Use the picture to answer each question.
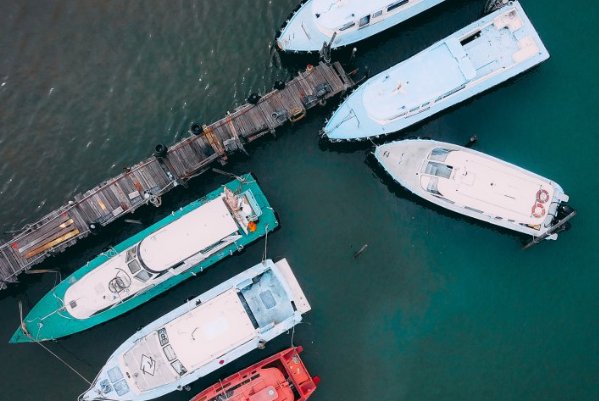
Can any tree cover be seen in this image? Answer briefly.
No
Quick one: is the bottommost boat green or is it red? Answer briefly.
red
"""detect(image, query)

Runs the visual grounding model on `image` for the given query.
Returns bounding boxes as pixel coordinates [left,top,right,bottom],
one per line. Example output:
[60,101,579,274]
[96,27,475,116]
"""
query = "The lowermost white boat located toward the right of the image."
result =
[376,140,572,242]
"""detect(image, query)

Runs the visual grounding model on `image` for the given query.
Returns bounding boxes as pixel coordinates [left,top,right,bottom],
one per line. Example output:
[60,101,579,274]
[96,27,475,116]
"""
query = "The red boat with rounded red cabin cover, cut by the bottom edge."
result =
[188,345,318,401]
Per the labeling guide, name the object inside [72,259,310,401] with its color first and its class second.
white boat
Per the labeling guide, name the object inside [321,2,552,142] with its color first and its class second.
white boat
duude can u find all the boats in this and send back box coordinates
[321,2,552,142]
[7,174,279,345]
[275,0,474,53]
[376,140,572,242]
[188,345,318,401]
[72,259,310,401]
